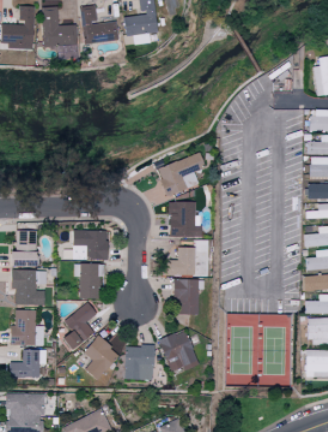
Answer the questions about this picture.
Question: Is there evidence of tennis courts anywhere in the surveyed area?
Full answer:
Yes, a tennis court is visible in the scene.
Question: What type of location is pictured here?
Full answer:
This looks like a residential area.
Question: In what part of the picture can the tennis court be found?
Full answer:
The tennis court is in the bottom right part of the image.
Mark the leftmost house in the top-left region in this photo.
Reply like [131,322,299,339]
[2,6,34,50]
